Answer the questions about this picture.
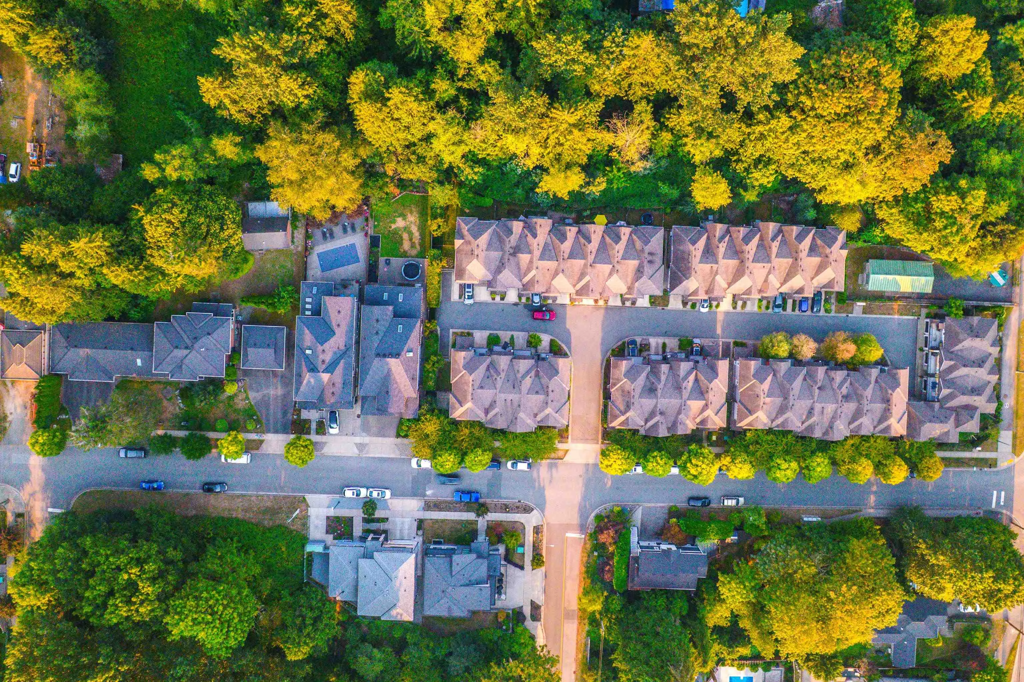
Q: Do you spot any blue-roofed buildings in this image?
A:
Yes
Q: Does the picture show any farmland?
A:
No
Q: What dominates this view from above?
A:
trees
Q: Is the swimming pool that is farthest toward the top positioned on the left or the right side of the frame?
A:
left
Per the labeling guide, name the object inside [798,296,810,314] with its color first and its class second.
blue vehicle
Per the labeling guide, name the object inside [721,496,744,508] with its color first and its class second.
white vehicle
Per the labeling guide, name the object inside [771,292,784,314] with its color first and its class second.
blue vehicle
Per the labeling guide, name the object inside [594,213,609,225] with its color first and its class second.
yellow umbrella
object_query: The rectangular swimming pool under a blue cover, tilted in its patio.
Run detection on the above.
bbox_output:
[314,240,362,275]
